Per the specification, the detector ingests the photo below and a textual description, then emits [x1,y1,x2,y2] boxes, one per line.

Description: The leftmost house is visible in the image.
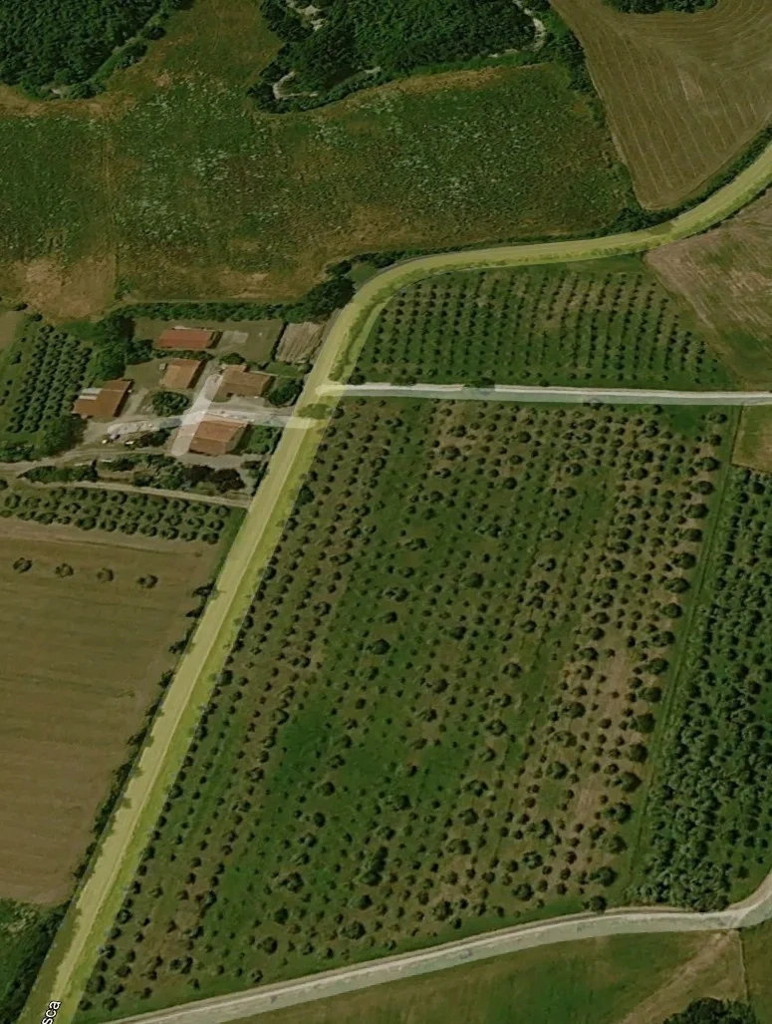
[76,379,132,420]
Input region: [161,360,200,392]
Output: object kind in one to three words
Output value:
house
